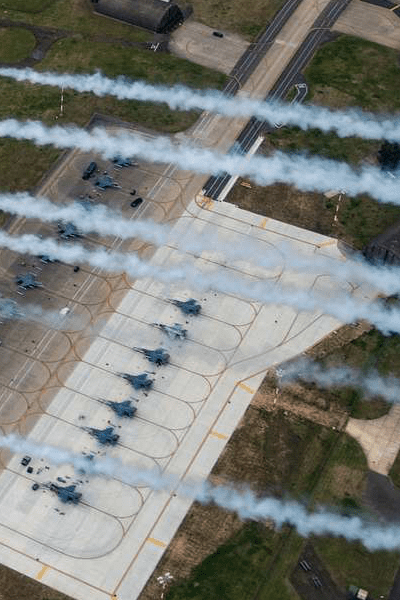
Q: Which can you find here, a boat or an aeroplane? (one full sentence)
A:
The image shows an aeroplane.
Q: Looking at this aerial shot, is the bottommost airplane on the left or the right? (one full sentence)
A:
The bottommost airplane is on the left side of the image.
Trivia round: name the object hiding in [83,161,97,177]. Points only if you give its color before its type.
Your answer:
black vehicle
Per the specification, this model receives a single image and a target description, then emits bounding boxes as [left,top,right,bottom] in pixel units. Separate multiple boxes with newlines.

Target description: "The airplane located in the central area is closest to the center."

[174,298,206,313]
